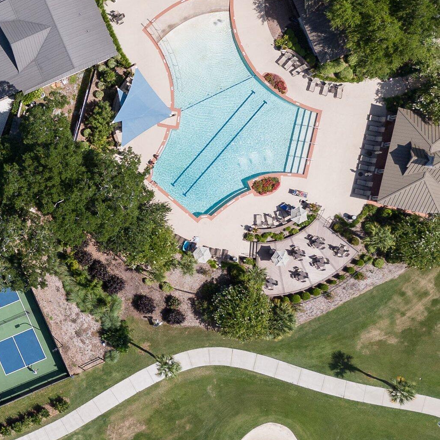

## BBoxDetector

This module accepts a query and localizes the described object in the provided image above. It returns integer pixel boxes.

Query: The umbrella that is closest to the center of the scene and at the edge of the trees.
[191,246,211,264]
